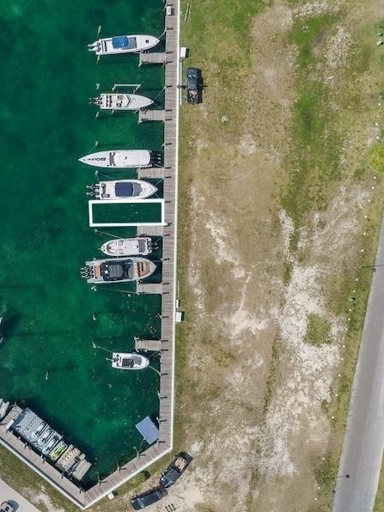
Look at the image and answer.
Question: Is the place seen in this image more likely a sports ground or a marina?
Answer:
marina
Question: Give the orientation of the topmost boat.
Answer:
from left to right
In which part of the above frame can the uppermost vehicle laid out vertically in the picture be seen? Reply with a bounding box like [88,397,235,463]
[184,68,201,105]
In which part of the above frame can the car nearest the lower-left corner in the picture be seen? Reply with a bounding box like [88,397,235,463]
[0,499,15,512]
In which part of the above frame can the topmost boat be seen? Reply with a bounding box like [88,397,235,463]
[88,32,163,55]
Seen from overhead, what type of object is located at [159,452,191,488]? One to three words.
truck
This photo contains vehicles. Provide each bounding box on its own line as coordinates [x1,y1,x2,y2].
[132,485,169,511]
[0,499,15,512]
[184,68,201,105]
[159,452,191,488]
